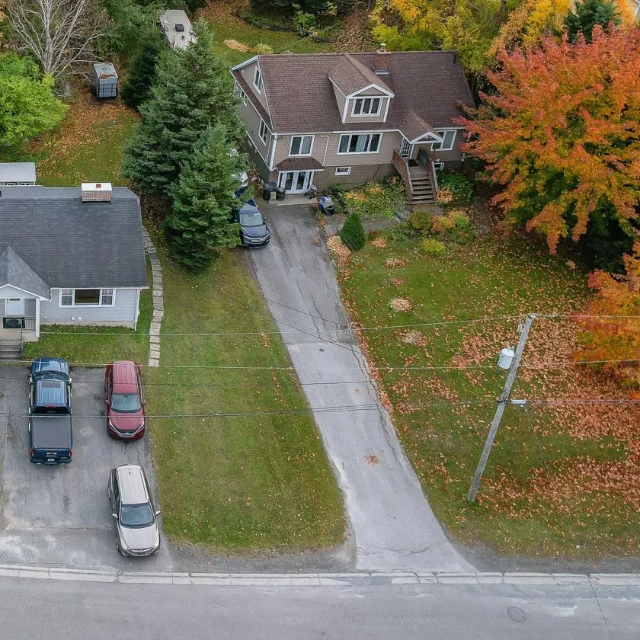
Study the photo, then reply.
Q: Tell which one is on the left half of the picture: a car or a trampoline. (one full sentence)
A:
You can see a car on the left half of the picture.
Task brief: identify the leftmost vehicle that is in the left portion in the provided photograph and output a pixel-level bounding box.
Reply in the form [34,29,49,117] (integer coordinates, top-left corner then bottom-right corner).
[24,358,77,462]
